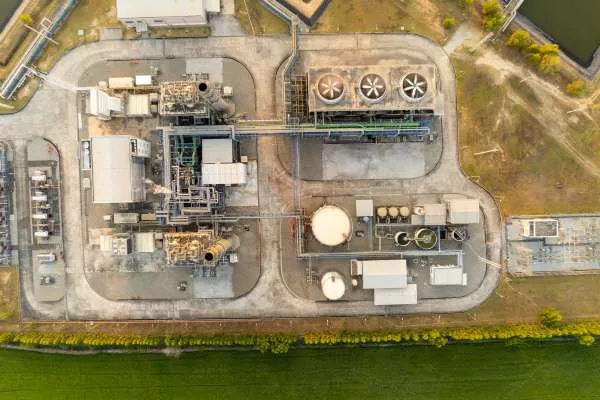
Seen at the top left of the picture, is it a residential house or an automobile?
residential house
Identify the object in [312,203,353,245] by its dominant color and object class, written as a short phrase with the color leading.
white storage tank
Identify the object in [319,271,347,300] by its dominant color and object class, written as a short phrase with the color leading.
white storage tank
